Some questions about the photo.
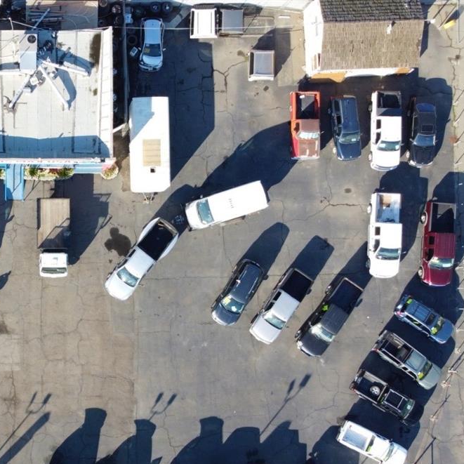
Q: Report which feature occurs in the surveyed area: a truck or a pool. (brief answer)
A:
truck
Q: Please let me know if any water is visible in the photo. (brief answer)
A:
No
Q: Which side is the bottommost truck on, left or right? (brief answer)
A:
right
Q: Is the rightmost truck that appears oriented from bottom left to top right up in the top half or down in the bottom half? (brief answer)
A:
bottom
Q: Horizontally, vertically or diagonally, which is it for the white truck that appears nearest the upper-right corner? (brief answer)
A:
vertically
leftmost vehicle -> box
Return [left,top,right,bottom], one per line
[36,199,72,279]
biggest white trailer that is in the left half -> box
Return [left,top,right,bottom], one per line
[123,98,170,209]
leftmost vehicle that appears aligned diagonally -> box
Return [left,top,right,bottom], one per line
[107,217,180,301]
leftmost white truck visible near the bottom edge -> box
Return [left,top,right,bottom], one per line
[334,420,403,464]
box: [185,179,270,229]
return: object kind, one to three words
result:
van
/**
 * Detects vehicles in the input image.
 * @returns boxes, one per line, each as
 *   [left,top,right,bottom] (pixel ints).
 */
[369,328,438,389]
[185,179,270,229]
[419,201,459,286]
[36,199,72,279]
[404,99,440,169]
[328,96,363,160]
[288,91,324,162]
[348,368,421,427]
[334,420,403,464]
[212,258,262,324]
[367,90,405,173]
[299,276,367,357]
[393,297,449,342]
[138,20,166,73]
[250,265,315,345]
[107,217,180,301]
[365,191,404,279]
